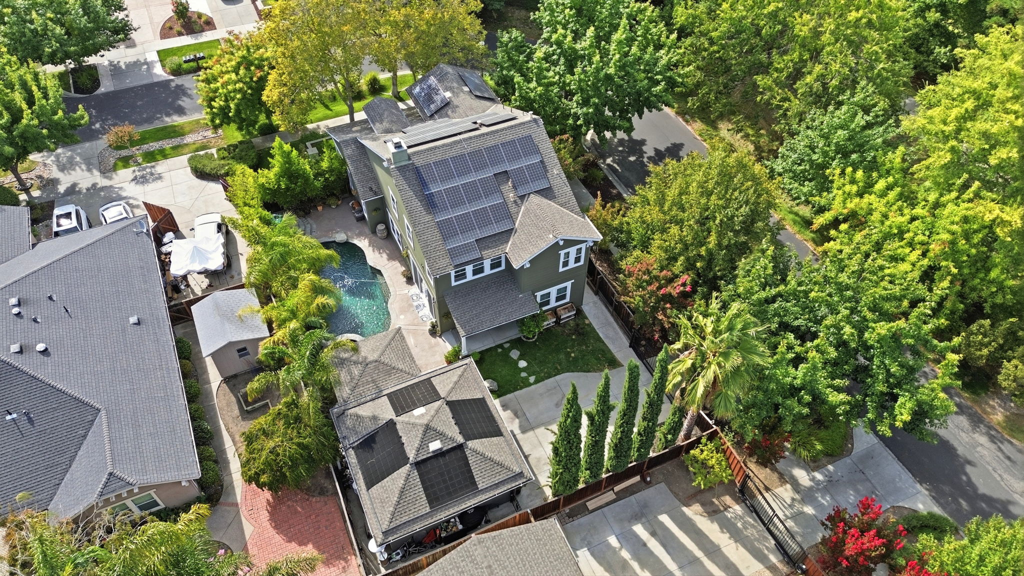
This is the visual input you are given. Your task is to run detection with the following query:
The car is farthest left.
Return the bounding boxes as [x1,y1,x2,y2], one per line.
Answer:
[52,204,88,238]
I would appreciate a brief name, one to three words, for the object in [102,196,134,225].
car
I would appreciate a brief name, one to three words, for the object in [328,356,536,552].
building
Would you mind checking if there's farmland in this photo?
No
